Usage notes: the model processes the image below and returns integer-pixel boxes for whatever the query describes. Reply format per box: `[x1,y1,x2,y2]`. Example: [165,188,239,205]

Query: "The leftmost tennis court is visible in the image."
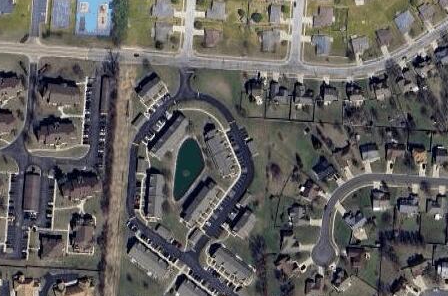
[52,0,71,28]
